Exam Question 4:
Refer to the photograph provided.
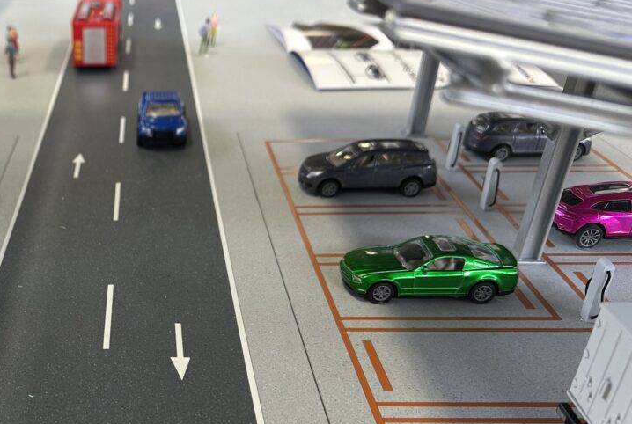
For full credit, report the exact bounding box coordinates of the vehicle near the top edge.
[73,0,121,65]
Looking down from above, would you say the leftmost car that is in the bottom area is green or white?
green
